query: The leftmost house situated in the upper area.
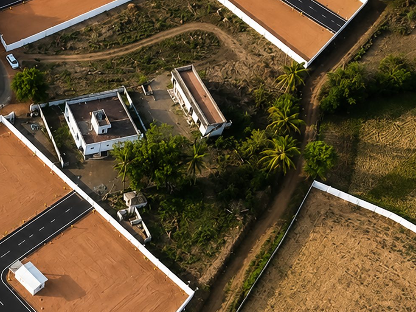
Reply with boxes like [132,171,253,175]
[64,91,139,157]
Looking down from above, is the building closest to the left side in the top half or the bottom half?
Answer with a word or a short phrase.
bottom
